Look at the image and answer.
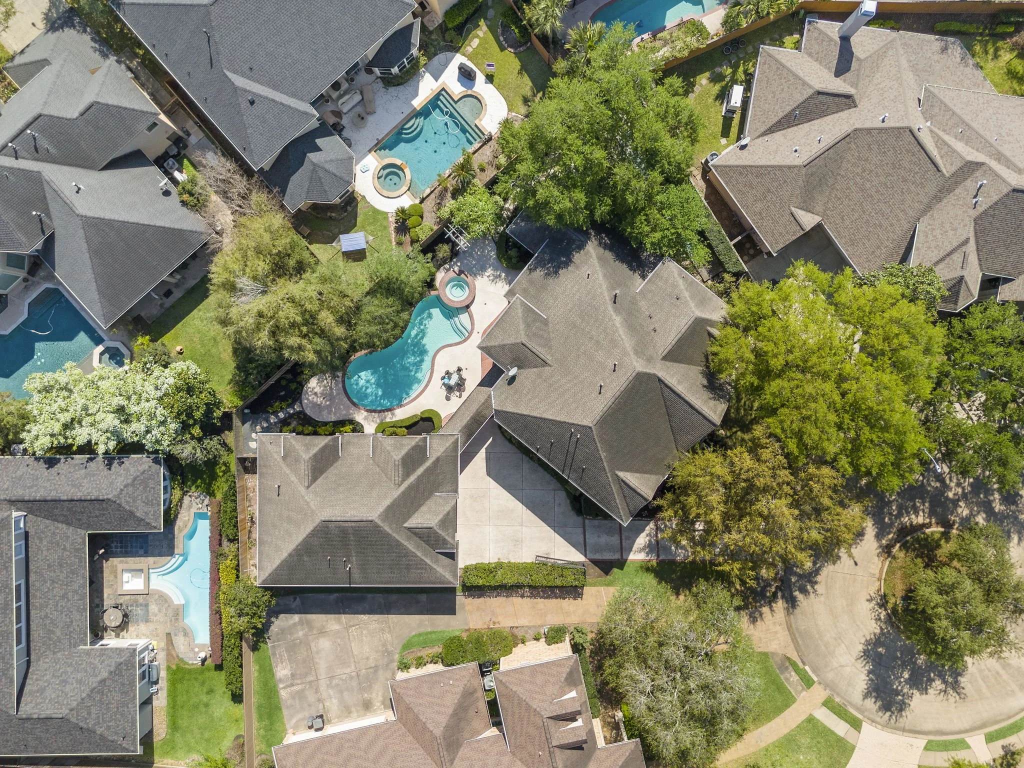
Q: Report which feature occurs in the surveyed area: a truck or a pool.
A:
pool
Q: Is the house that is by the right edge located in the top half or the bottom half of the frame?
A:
top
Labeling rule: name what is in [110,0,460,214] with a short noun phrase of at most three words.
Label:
house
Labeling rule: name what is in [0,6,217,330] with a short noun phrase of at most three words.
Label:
house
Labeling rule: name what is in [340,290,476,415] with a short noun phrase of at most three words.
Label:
swimming pool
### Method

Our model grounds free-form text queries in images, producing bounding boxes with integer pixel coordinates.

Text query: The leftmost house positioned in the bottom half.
[0,453,187,757]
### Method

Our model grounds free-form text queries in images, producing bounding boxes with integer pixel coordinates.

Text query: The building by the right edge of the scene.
[707,0,1024,313]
